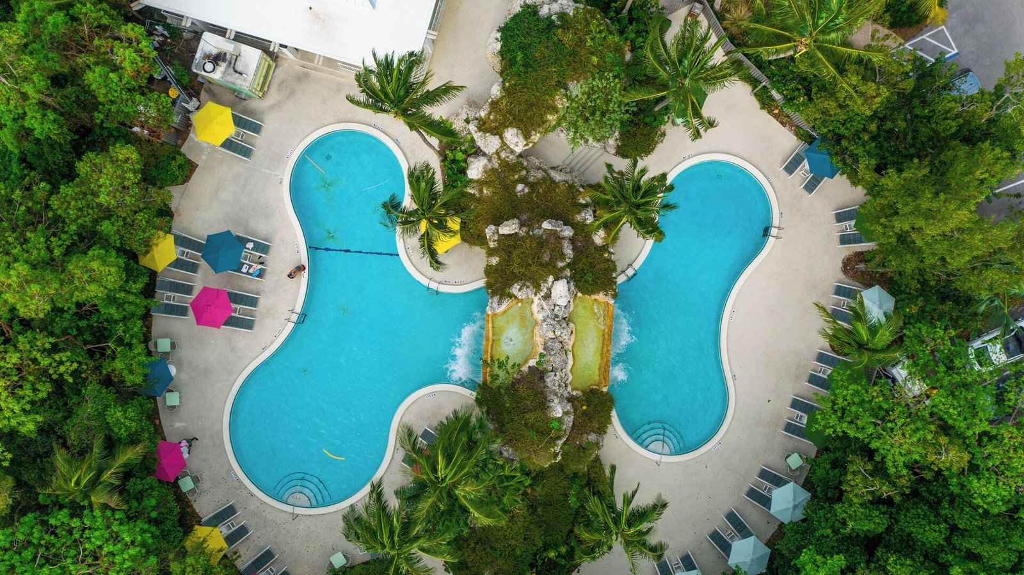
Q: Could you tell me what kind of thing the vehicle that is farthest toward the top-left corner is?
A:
truck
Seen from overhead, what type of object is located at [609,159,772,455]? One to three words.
swimming pool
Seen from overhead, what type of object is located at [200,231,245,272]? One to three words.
umbrella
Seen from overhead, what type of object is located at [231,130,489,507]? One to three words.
swimming pool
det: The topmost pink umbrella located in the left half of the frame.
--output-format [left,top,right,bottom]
[190,286,234,328]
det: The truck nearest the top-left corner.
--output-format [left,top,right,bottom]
[193,33,272,100]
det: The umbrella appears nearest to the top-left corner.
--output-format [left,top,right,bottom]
[192,102,236,145]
